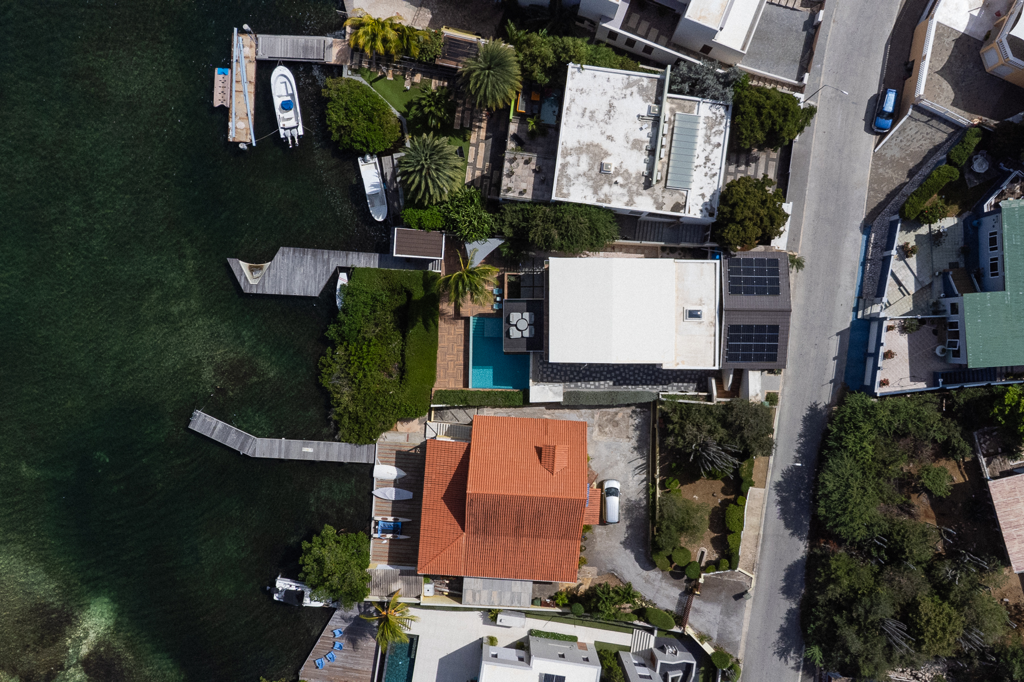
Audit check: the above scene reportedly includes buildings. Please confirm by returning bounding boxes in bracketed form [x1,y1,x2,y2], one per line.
[544,257,720,369]
[977,467,1024,573]
[551,63,732,226]
[418,415,600,584]
[937,199,1024,368]
[575,0,767,84]
[392,227,446,261]
[615,631,695,682]
[482,635,601,682]
[984,0,1024,81]
[824,669,853,682]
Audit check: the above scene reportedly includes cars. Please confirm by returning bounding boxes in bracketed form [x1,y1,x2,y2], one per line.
[868,84,902,135]
[601,479,623,525]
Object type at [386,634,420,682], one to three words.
swimming pool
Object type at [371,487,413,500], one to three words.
boat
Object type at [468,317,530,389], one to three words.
swimming pool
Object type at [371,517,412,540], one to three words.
boat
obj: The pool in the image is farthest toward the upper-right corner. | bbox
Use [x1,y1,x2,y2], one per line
[540,93,559,126]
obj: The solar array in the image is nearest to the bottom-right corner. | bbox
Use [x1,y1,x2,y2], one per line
[726,325,780,362]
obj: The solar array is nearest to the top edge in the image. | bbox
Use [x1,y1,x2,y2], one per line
[727,258,781,295]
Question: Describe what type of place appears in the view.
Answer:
residential area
